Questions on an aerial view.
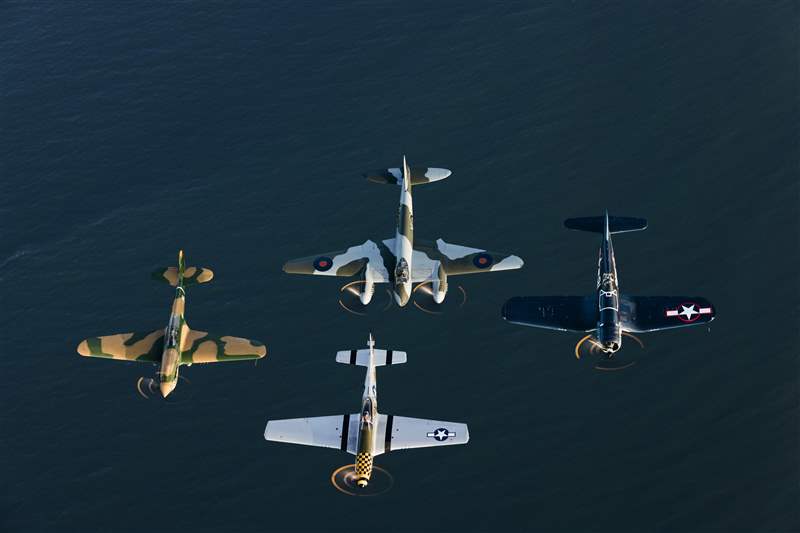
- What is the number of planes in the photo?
4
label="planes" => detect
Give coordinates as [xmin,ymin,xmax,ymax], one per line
[264,331,469,495]
[77,250,266,405]
[503,209,716,369]
[282,154,523,317]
